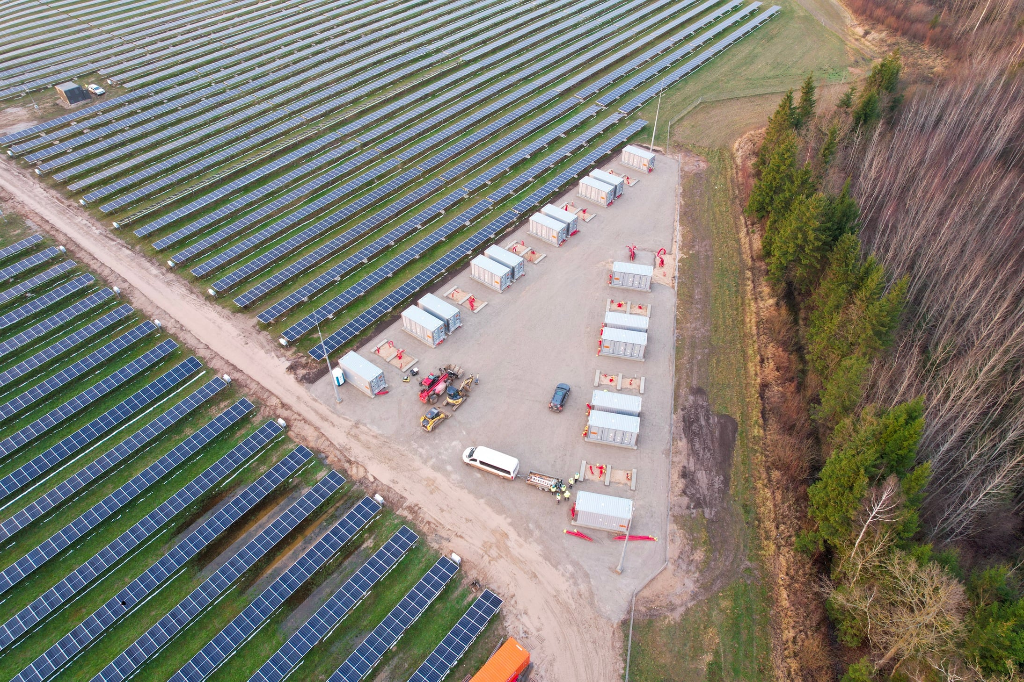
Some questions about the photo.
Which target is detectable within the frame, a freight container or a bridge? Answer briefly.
freight container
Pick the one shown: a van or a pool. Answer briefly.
van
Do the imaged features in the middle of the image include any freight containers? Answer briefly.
Yes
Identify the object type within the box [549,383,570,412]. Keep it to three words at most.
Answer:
car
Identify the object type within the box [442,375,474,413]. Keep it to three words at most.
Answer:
work vehicle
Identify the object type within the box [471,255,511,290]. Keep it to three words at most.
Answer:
shipping container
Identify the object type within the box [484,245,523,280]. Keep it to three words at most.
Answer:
shipping container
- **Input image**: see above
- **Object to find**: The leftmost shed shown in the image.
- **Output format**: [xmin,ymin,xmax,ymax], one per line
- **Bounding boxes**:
[57,81,90,104]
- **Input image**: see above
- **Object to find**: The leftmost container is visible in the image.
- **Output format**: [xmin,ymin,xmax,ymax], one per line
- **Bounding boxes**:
[338,351,386,396]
